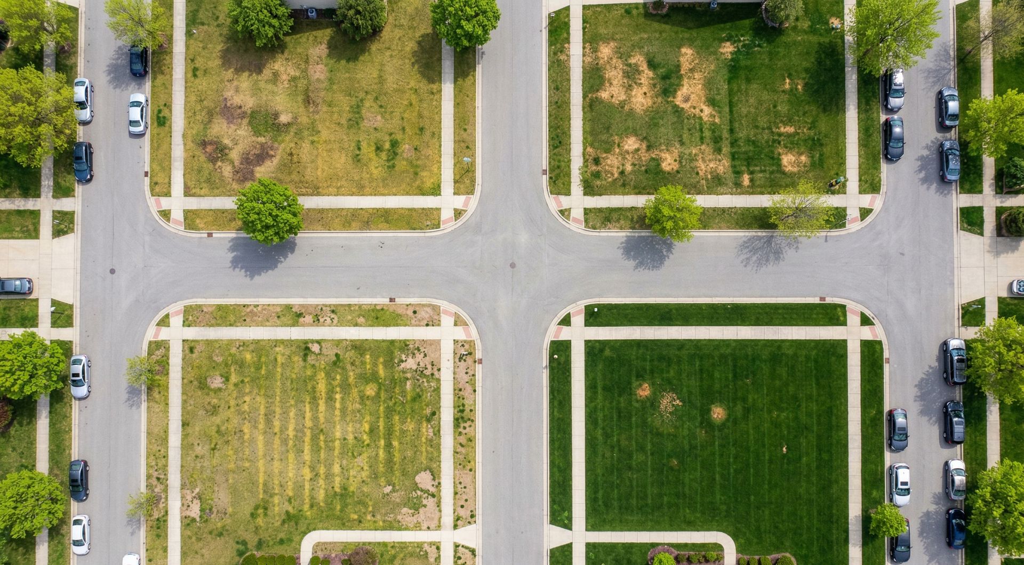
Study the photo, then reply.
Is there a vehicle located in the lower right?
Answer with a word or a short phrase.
Yes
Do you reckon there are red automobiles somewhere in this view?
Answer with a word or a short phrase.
No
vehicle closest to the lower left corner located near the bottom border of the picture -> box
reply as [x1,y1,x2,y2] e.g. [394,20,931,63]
[70,513,96,554]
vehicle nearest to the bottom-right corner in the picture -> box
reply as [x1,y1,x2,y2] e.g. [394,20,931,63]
[941,506,967,549]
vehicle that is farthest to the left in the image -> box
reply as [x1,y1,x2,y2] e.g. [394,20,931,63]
[0,276,35,296]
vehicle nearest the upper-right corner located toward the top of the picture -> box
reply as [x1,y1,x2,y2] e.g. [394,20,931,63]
[934,88,959,129]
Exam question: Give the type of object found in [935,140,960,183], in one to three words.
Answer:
car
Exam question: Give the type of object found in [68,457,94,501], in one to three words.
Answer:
car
